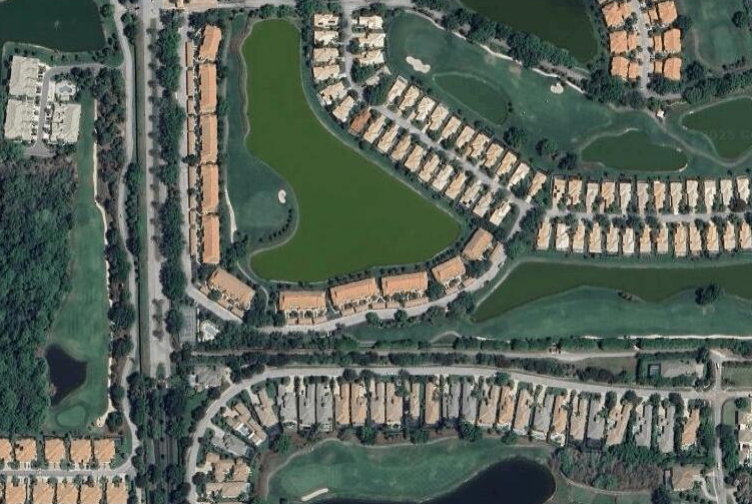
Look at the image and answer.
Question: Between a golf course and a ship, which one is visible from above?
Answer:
golf course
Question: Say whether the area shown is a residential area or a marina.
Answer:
residential area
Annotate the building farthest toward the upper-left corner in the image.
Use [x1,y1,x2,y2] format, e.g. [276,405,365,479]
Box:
[7,54,40,98]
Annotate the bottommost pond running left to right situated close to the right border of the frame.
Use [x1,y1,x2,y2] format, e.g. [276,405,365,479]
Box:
[474,261,752,321]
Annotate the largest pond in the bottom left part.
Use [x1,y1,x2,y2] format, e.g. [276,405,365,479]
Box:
[45,345,88,405]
